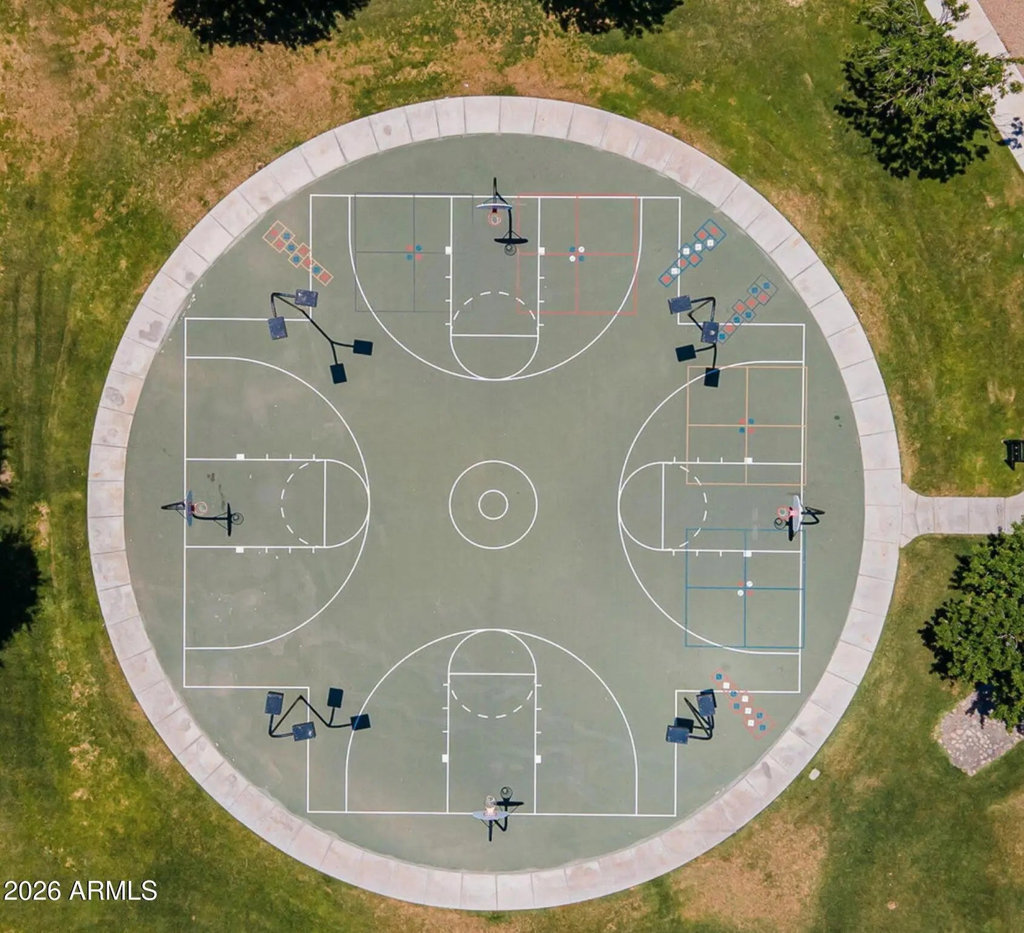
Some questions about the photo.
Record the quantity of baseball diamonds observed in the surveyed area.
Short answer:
none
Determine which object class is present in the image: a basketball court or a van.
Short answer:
basketball court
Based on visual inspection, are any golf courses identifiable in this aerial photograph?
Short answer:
No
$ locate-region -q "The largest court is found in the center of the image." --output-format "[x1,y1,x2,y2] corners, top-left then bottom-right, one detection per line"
[124,132,865,874]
